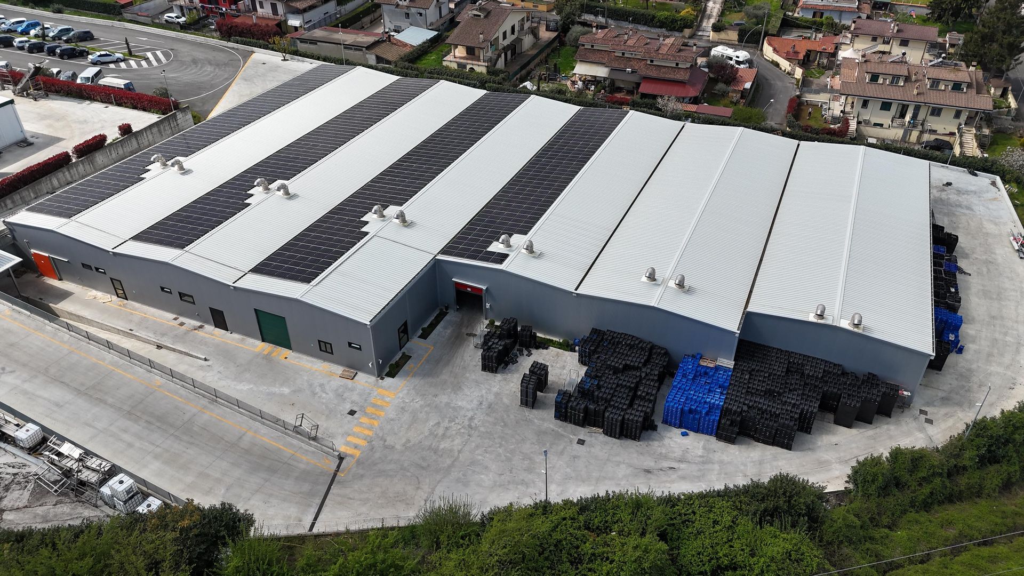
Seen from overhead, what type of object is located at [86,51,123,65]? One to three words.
car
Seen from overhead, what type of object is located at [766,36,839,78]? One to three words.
house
